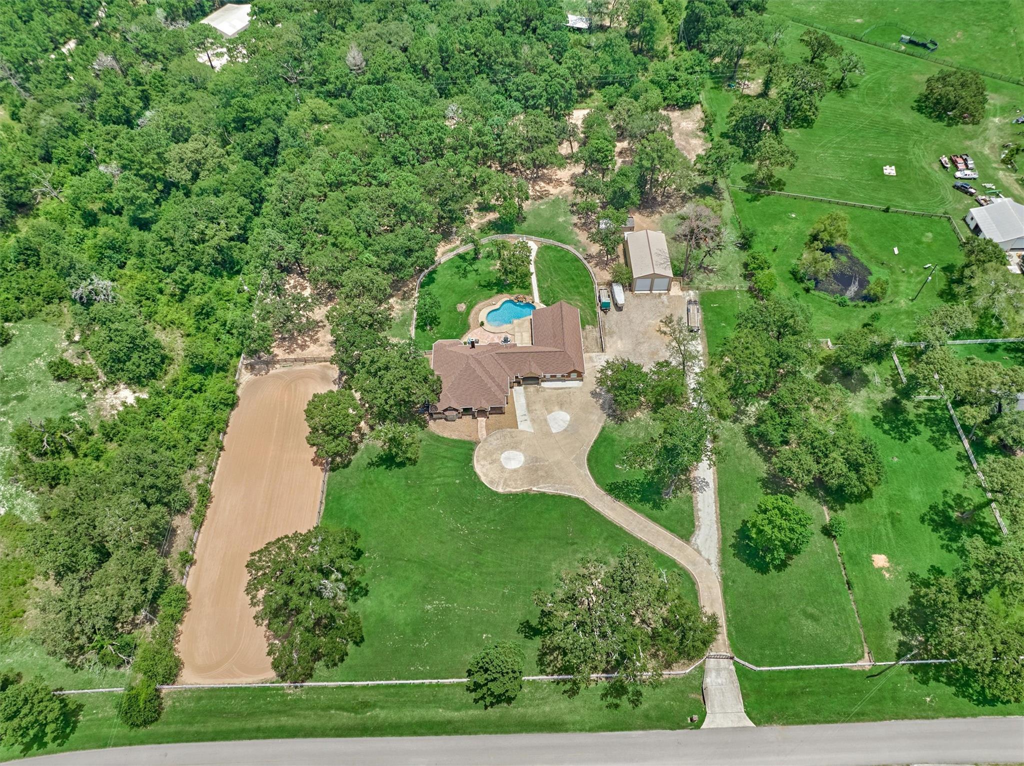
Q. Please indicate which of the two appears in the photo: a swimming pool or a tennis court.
swimming pool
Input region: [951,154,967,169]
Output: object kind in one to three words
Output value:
vehicle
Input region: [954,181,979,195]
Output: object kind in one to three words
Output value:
vehicle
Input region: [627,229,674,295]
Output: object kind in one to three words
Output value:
building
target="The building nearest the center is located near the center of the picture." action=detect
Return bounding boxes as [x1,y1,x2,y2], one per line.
[427,302,585,422]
